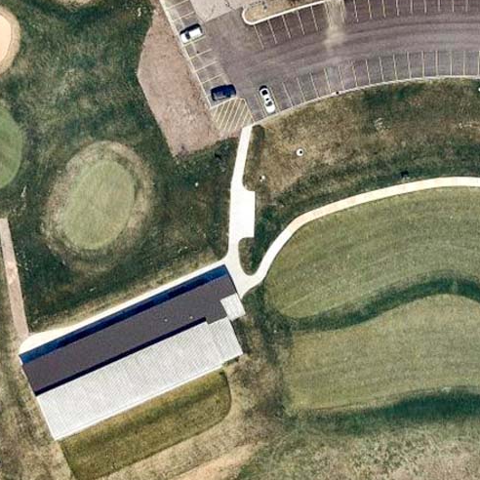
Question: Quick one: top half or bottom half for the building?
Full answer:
The building is in the bottom half of the image.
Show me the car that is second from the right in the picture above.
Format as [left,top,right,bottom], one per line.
[211,86,237,102]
